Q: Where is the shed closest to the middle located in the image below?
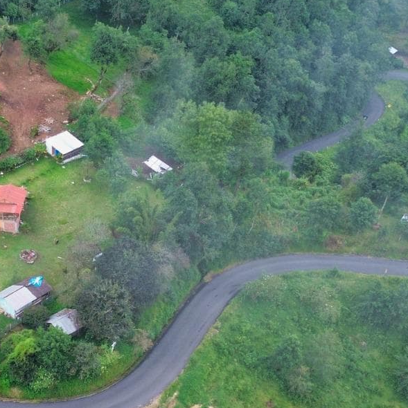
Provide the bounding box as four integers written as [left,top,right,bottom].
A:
[143,156,172,180]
